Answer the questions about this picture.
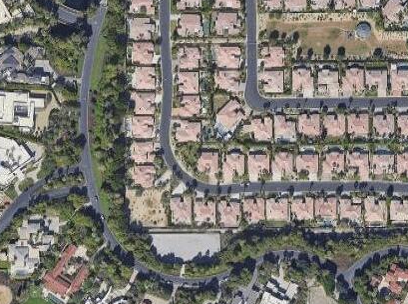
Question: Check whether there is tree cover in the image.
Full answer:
Yes, some tree cover is visible.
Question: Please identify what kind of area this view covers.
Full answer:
This image shows a residential area.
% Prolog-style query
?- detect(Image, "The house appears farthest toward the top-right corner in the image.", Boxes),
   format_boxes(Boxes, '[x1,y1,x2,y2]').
[383,0,408,22]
